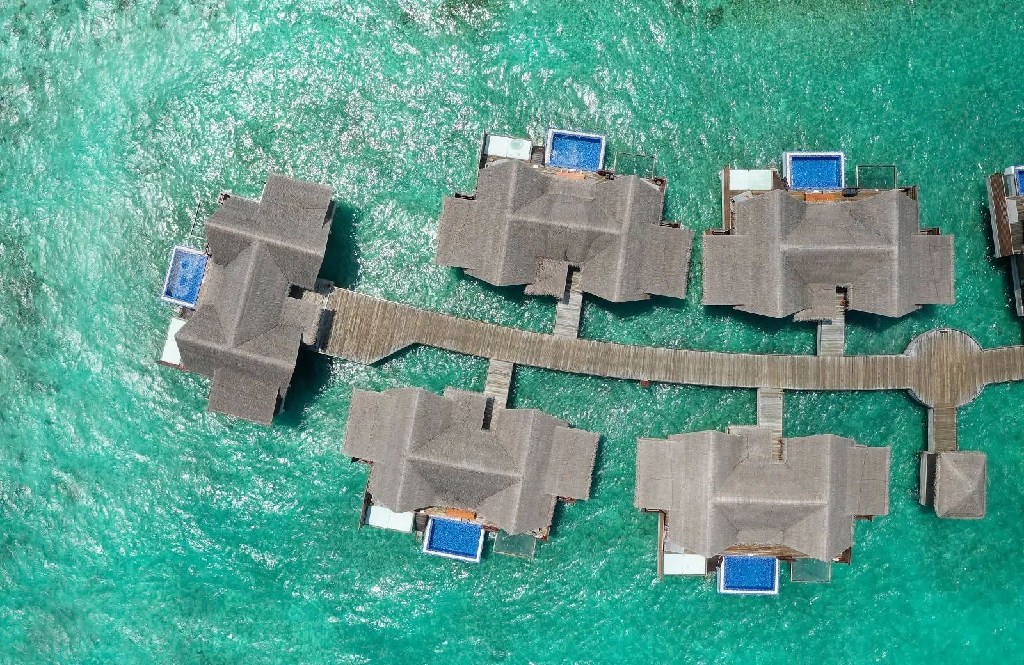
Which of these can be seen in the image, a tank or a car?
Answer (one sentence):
The one in the frame is a tank.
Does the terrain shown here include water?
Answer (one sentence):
Yes, there is water in the image.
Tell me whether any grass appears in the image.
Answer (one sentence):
No, there is no grass in the image.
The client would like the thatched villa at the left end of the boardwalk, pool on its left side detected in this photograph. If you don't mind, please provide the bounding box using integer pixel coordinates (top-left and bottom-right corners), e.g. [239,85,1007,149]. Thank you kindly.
[150,168,344,431]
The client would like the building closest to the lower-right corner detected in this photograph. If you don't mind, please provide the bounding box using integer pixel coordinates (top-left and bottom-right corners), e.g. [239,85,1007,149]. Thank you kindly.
[908,451,987,519]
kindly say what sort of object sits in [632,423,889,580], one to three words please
house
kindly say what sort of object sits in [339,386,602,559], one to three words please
house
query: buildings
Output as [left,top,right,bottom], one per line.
[908,451,987,519]
[431,130,692,302]
[632,423,889,580]
[698,163,955,323]
[986,172,1024,311]
[339,386,602,559]
[150,168,344,431]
